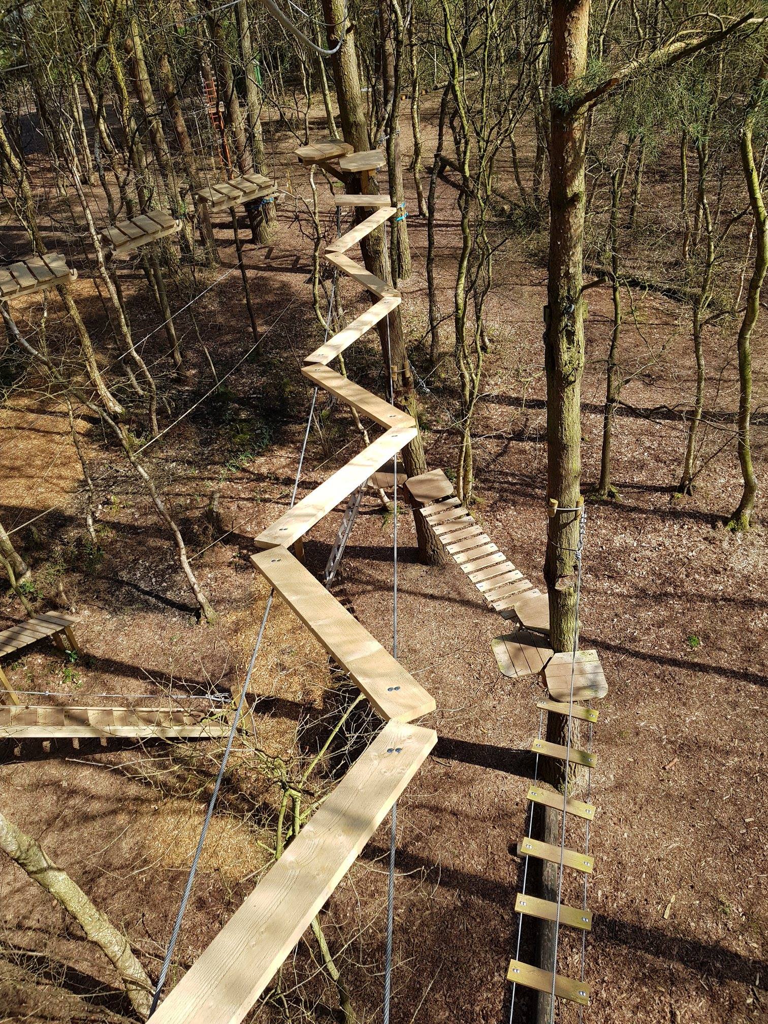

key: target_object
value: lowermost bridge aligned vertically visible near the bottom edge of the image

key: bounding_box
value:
[508,682,598,1024]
